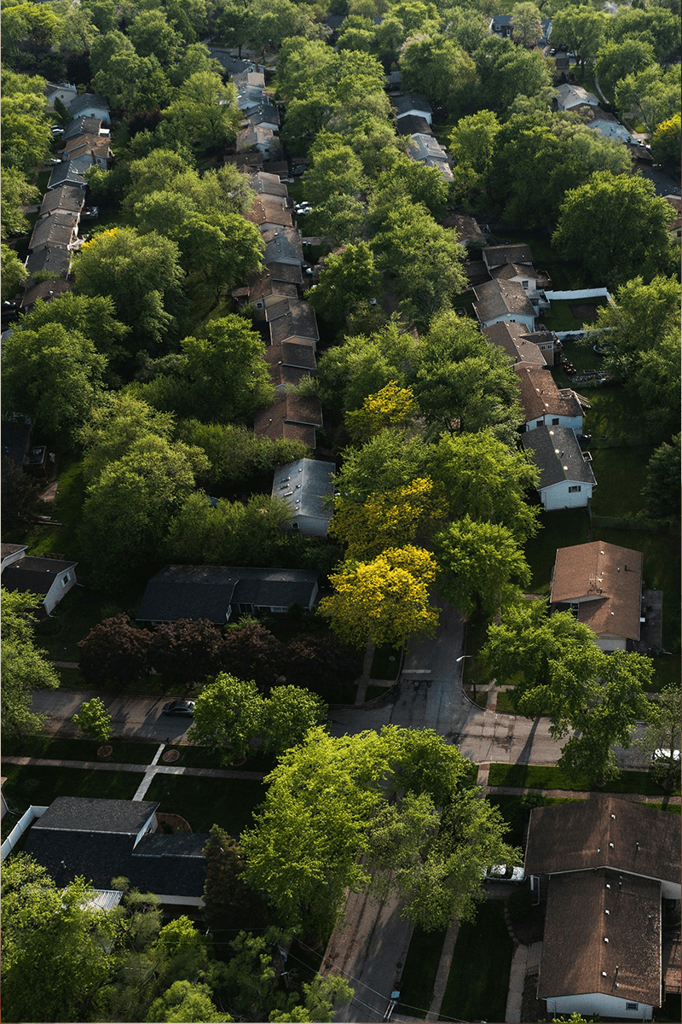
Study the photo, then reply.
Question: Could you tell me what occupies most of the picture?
trees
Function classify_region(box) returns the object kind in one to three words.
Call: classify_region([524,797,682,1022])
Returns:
house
